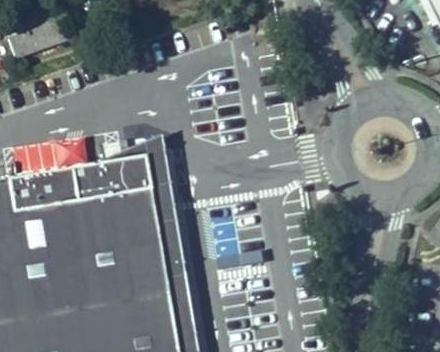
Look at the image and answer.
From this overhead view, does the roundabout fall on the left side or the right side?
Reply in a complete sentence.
The roundabout sits on the right side.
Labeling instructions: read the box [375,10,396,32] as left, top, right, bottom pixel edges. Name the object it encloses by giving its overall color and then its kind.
white car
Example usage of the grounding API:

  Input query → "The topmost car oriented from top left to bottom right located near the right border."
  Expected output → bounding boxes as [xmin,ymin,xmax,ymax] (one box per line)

[402,9,422,33]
